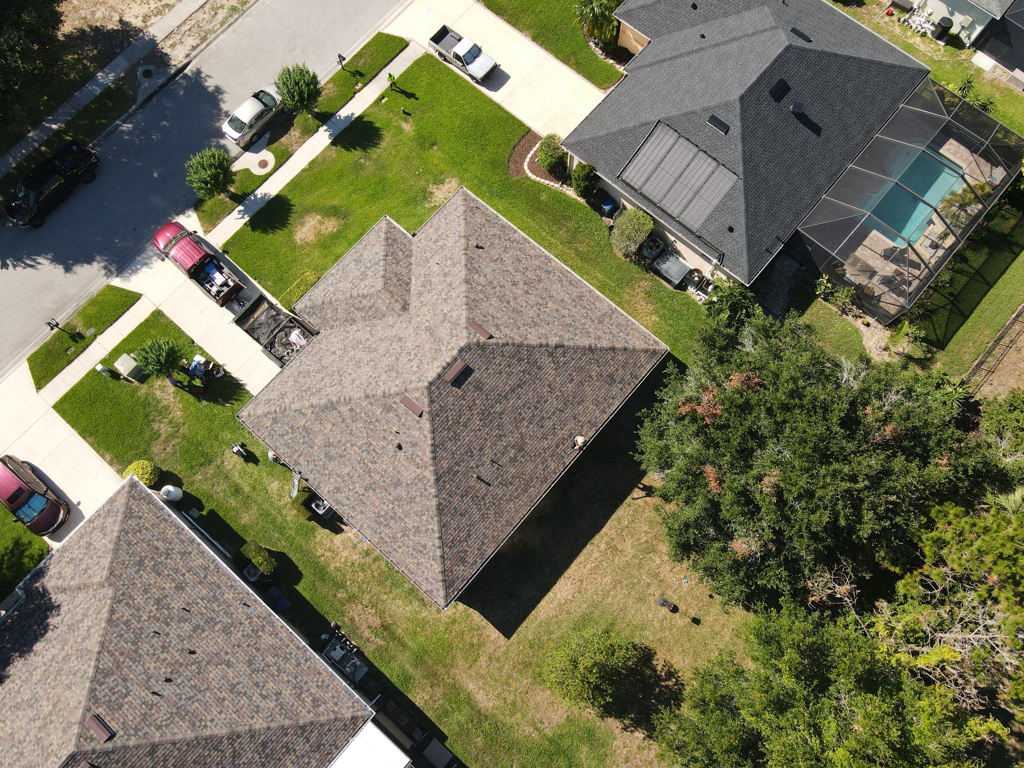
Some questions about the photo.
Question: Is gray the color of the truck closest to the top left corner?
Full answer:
No, the color of the truck closest to the top left corner is black.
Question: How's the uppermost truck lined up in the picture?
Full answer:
I'd say the uppermost truck is aligned at an angle in the picture.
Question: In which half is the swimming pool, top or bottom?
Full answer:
You can find the swimming pool in the top half.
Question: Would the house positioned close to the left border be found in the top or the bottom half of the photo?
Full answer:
The house positioned close to the left border is in the bottom half of the image.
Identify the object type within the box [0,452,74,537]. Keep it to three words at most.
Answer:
car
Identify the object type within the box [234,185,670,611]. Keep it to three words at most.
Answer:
house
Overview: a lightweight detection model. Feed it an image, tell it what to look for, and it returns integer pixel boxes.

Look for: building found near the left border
[0,472,378,768]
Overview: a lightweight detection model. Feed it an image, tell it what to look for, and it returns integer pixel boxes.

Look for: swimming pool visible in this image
[851,144,968,250]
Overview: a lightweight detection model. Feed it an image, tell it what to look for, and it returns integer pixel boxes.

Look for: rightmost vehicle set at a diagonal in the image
[429,24,499,85]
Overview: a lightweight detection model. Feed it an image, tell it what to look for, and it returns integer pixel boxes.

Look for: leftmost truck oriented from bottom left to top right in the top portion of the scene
[4,139,103,235]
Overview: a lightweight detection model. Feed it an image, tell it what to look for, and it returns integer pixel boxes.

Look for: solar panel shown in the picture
[614,112,745,274]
